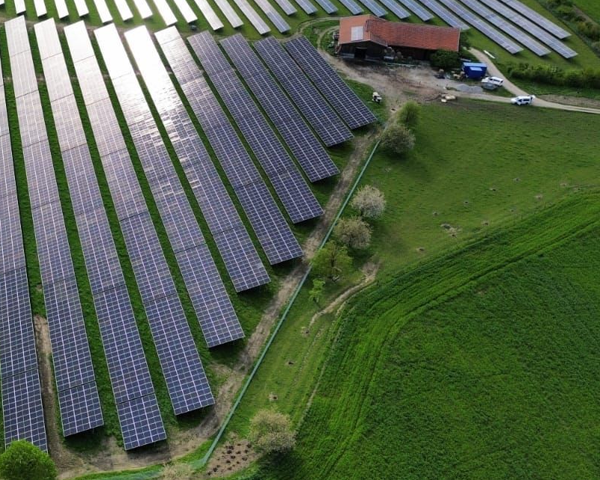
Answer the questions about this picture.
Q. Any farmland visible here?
Yes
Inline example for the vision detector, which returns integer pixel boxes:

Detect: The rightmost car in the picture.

[510,95,539,107]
